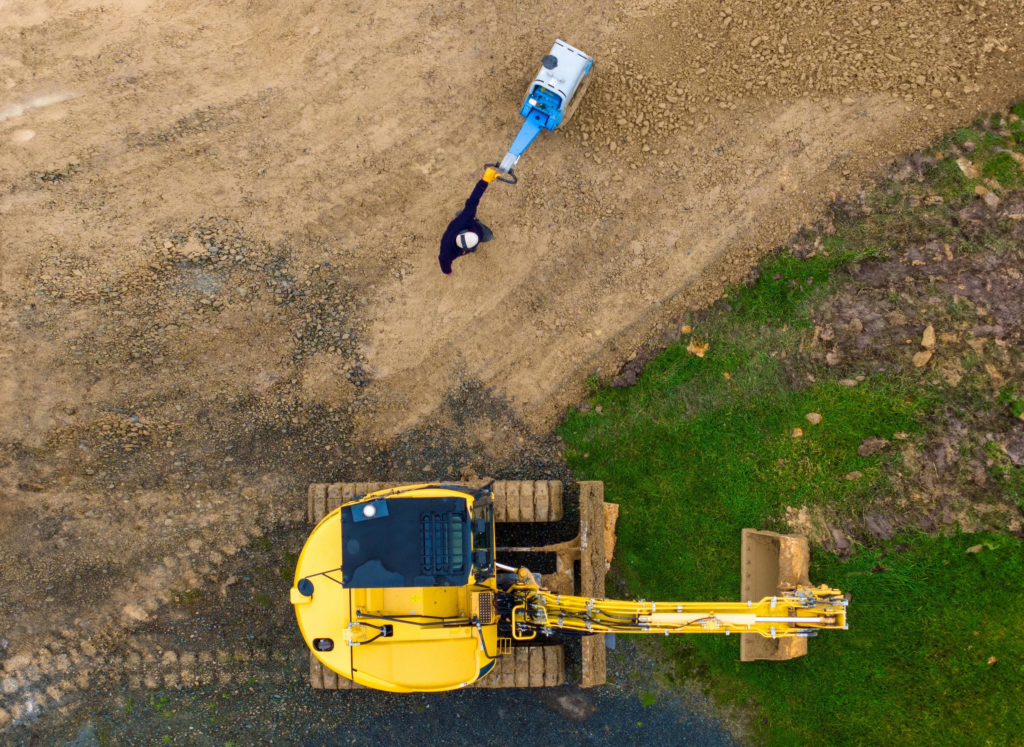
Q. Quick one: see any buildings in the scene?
No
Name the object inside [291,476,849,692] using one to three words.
work vehicle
